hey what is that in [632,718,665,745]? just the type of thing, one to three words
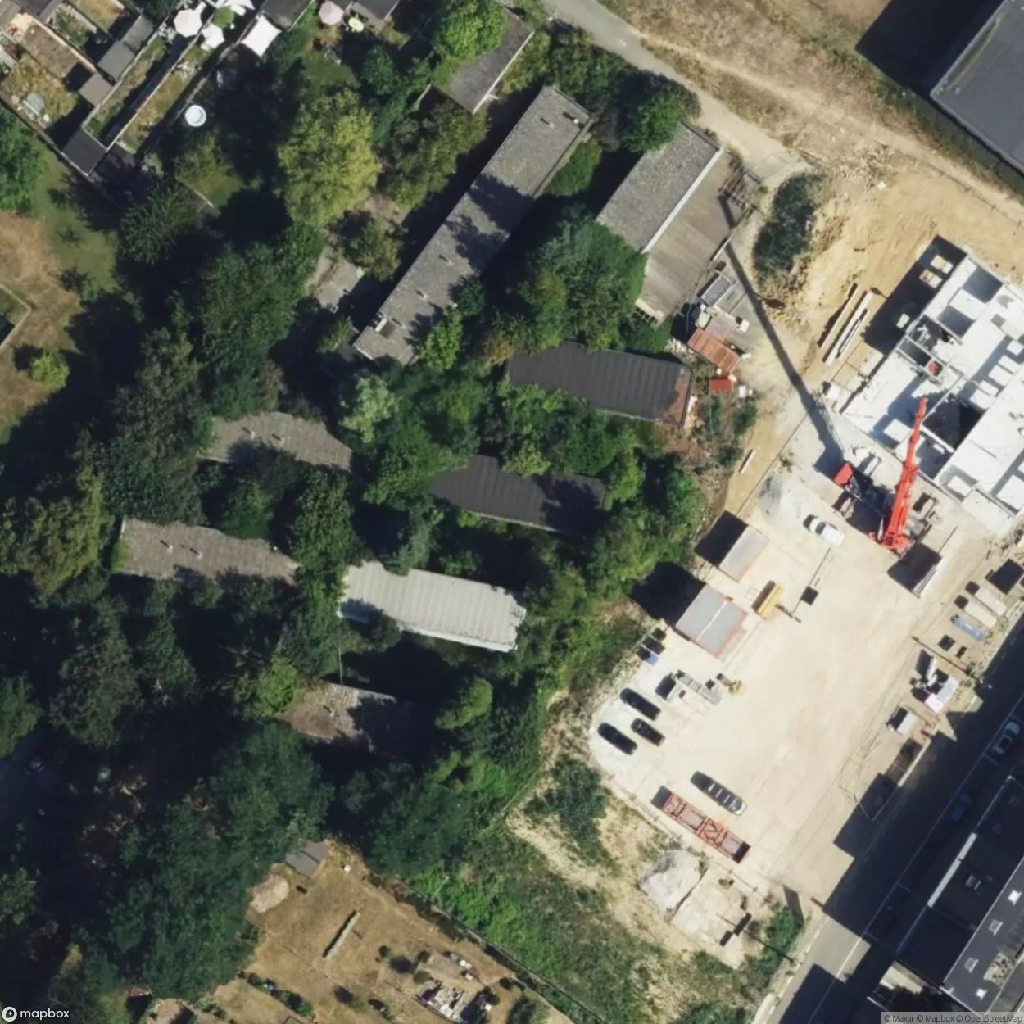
car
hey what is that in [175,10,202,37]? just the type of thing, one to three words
umbrella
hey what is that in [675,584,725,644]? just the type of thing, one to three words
building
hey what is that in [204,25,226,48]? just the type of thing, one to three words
umbrella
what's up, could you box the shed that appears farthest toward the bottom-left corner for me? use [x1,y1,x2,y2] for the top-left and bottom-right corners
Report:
[286,839,329,875]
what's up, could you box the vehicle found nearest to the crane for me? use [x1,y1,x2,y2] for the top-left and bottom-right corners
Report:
[808,515,848,547]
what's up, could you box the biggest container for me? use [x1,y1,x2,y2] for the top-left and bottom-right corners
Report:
[686,330,742,379]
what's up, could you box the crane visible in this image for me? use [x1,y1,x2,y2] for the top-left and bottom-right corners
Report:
[834,330,944,559]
